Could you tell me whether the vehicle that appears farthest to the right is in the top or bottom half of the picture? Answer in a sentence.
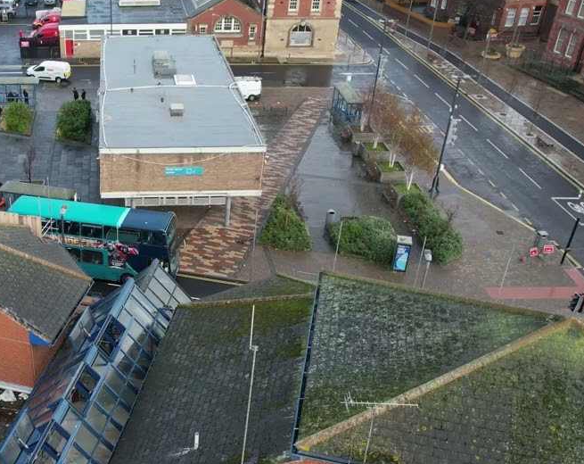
Seen from above, the vehicle that appears farthest to the right lies in the top half of the view.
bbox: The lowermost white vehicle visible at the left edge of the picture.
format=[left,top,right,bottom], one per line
[27,61,72,84]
